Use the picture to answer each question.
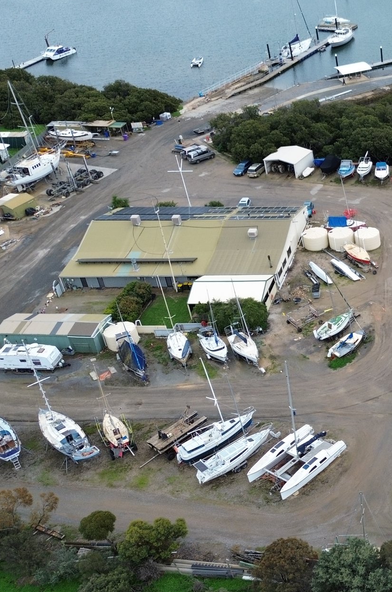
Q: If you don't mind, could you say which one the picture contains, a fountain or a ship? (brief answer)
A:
ship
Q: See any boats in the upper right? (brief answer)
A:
Yes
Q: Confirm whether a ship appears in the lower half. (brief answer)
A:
Yes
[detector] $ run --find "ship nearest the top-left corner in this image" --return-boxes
[43,42,78,64]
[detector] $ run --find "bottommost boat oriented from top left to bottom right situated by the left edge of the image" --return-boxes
[17,340,94,471]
